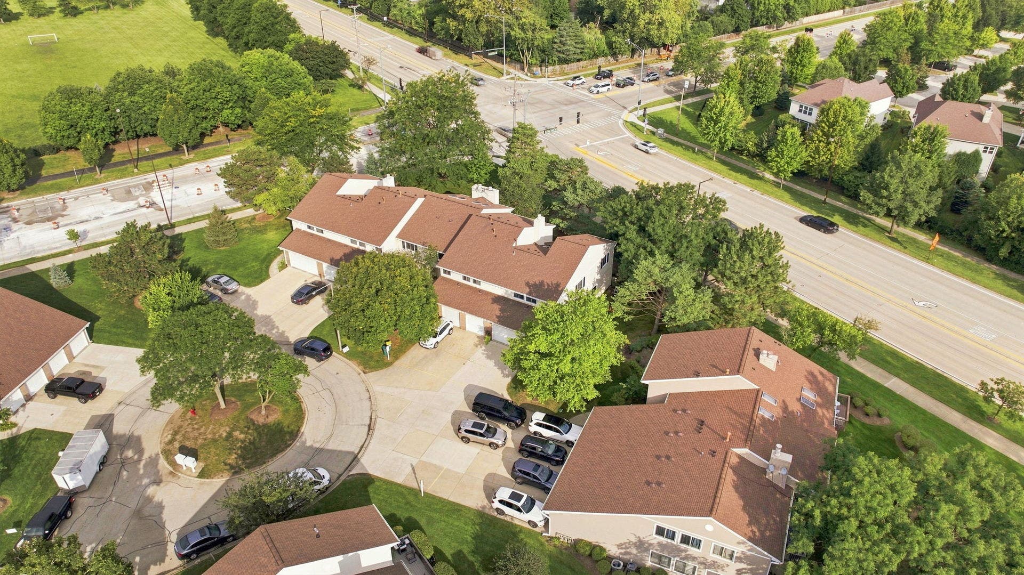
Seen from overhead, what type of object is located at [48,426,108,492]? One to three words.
trailer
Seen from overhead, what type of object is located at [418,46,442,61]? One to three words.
vehicle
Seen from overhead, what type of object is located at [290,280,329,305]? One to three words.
car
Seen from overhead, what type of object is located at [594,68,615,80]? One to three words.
vehicle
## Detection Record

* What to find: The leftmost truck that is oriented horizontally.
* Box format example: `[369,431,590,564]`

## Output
[39,375,106,403]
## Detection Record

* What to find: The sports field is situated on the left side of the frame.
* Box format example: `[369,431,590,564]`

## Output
[0,0,253,139]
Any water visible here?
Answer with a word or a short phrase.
No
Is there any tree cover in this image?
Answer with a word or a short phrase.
Yes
